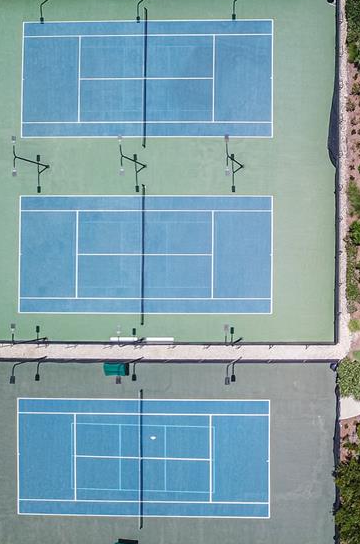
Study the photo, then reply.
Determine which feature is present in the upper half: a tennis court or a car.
tennis court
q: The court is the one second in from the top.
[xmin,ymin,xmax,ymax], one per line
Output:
[18,196,273,314]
